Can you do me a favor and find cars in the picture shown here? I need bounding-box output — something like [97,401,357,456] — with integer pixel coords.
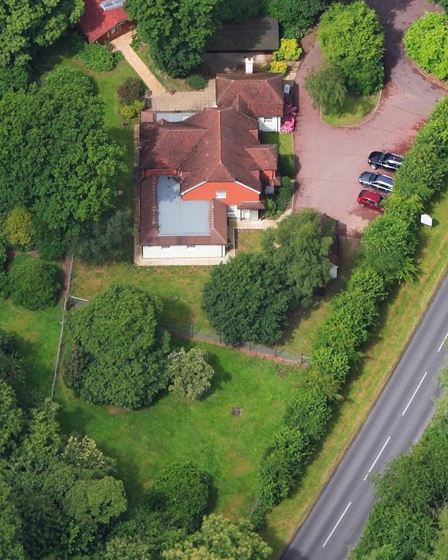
[368,154,411,178]
[359,172,402,198]
[356,194,388,212]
